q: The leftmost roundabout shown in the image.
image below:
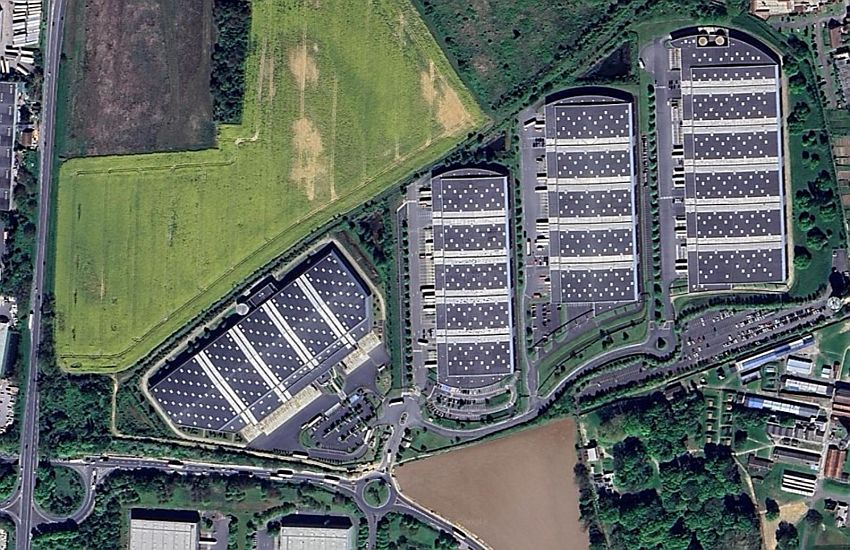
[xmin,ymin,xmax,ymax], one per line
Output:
[356,474,398,515]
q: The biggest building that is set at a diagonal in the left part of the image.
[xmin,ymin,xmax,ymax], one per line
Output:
[150,248,374,432]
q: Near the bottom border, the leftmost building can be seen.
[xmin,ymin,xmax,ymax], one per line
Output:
[129,516,200,550]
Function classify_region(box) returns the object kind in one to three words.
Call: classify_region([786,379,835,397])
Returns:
shed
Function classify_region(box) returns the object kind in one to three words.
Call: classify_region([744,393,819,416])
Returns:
shed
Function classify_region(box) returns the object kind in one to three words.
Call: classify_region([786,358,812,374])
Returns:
building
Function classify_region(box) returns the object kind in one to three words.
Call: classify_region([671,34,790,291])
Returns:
warehouse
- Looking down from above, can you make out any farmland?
Yes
